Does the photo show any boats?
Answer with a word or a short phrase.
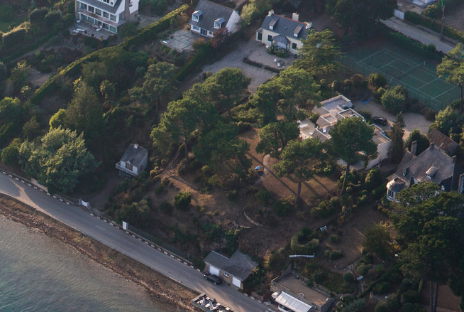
No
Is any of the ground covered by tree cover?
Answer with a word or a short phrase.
Yes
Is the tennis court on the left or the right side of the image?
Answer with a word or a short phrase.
right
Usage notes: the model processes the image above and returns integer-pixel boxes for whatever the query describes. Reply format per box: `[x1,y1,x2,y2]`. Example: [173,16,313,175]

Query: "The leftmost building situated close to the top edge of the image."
[71,0,138,34]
